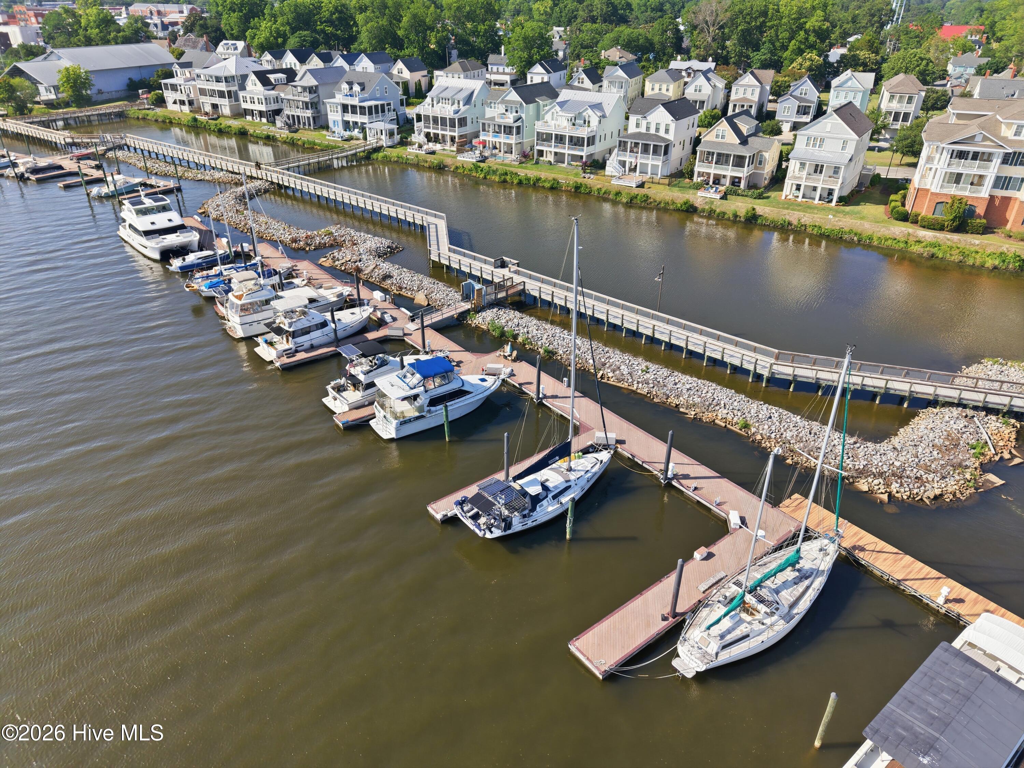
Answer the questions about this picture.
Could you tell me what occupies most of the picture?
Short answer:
water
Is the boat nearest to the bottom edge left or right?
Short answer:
right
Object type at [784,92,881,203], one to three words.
house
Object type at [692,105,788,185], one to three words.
house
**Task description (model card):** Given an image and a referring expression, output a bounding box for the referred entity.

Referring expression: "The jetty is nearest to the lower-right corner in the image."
[786,493,1024,631]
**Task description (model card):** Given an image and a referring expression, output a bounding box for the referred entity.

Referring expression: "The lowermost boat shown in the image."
[830,610,1024,768]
